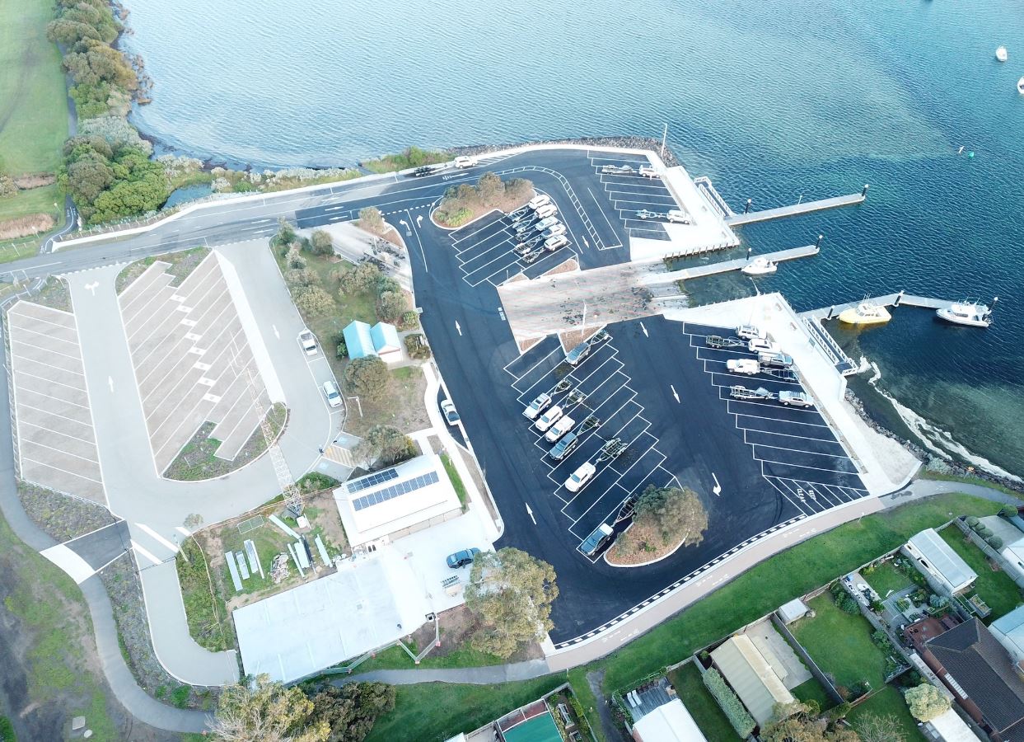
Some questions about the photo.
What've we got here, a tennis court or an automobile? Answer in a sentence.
Looking from above, you can make out an automobile.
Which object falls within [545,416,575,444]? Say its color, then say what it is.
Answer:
white car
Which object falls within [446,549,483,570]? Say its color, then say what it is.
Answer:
blue car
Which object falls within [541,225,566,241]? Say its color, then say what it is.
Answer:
white car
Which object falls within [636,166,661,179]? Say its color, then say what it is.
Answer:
white vehicle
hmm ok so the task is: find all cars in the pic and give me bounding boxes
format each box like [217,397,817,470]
[749,338,779,353]
[541,225,566,241]
[566,342,592,366]
[581,523,613,557]
[665,211,690,225]
[726,360,759,377]
[524,394,551,420]
[534,206,557,220]
[528,196,551,211]
[756,351,789,368]
[636,166,661,179]
[441,401,460,427]
[446,549,483,570]
[535,405,563,432]
[534,217,559,232]
[566,462,595,492]
[300,331,318,356]
[454,157,477,170]
[549,434,578,462]
[543,236,567,252]
[324,385,342,406]
[778,392,813,409]
[545,416,575,444]
[733,324,764,339]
